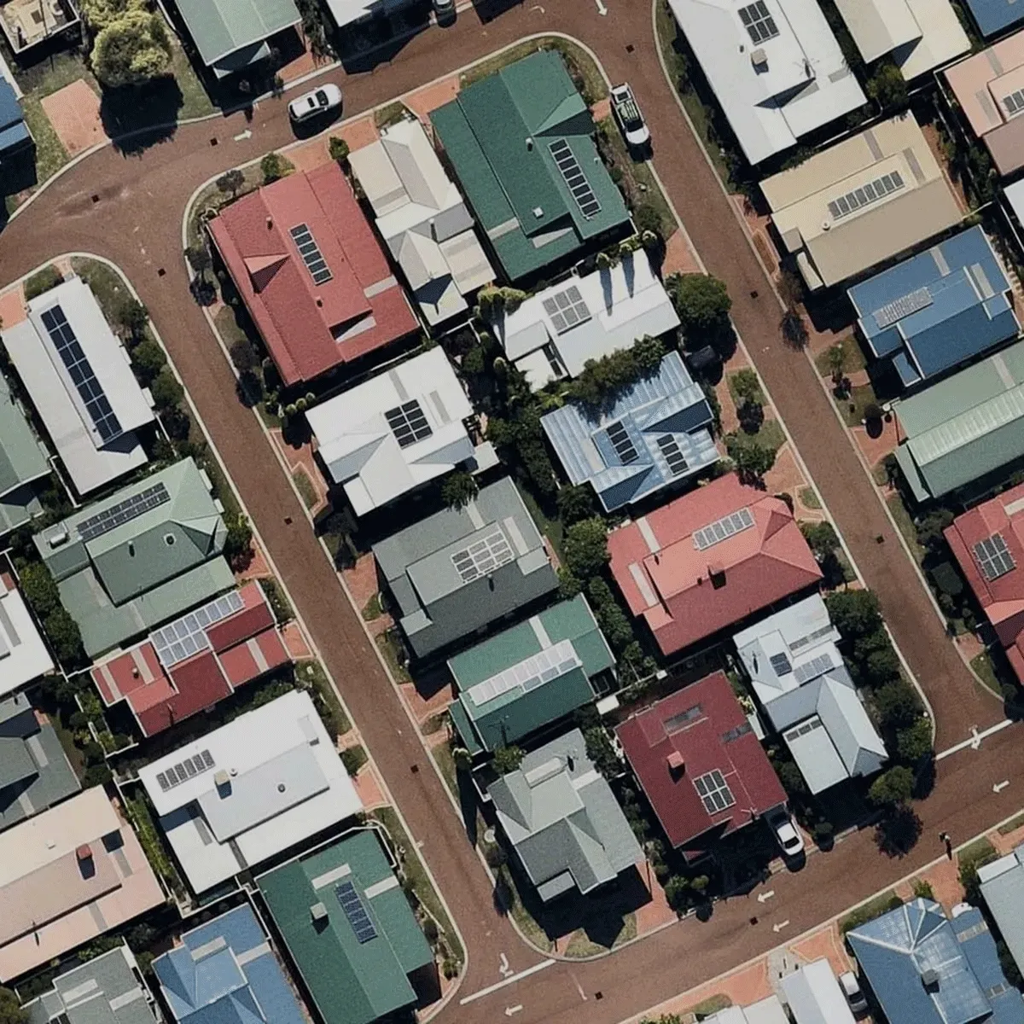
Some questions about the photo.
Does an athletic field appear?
No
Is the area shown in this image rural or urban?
urban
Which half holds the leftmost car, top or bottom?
top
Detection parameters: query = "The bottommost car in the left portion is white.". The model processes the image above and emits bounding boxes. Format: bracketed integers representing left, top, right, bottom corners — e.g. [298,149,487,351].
[289,84,340,121]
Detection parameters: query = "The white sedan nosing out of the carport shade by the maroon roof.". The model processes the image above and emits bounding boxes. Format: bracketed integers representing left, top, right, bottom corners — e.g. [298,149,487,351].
[765,803,804,857]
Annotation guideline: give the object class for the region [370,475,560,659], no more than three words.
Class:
house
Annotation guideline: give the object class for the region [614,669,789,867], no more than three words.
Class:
house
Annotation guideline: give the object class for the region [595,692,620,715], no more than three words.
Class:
shed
